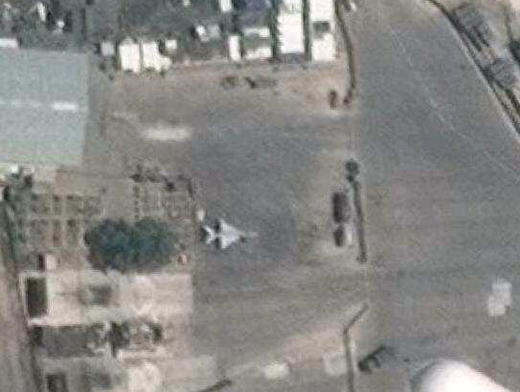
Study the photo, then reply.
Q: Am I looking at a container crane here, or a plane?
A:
plane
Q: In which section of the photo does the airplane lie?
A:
center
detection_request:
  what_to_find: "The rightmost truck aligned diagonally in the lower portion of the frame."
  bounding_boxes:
[360,346,387,370]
